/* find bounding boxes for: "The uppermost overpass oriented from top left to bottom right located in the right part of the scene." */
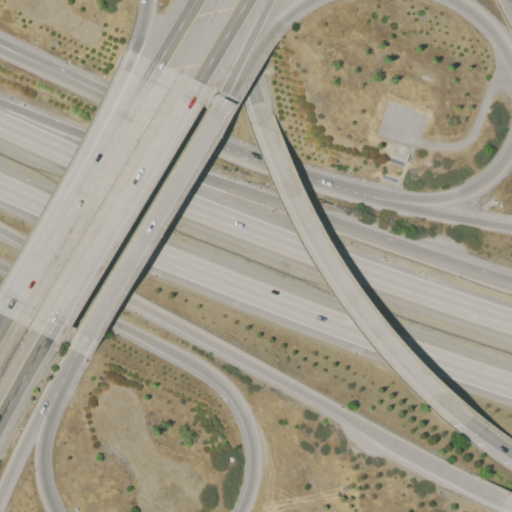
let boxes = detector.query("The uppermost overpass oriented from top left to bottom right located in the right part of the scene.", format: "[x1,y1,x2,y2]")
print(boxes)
[246,80,512,472]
